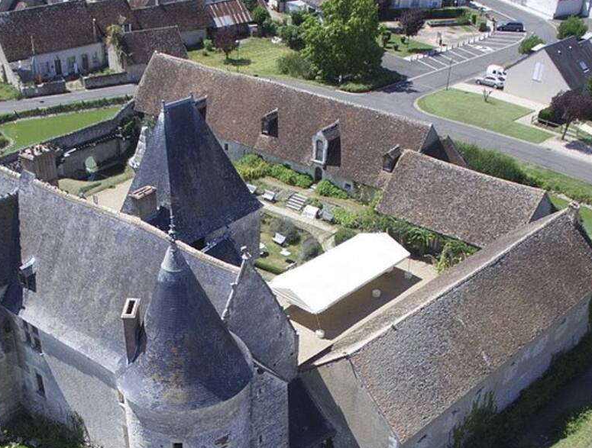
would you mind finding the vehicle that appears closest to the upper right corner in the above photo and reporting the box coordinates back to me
[496,18,526,32]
